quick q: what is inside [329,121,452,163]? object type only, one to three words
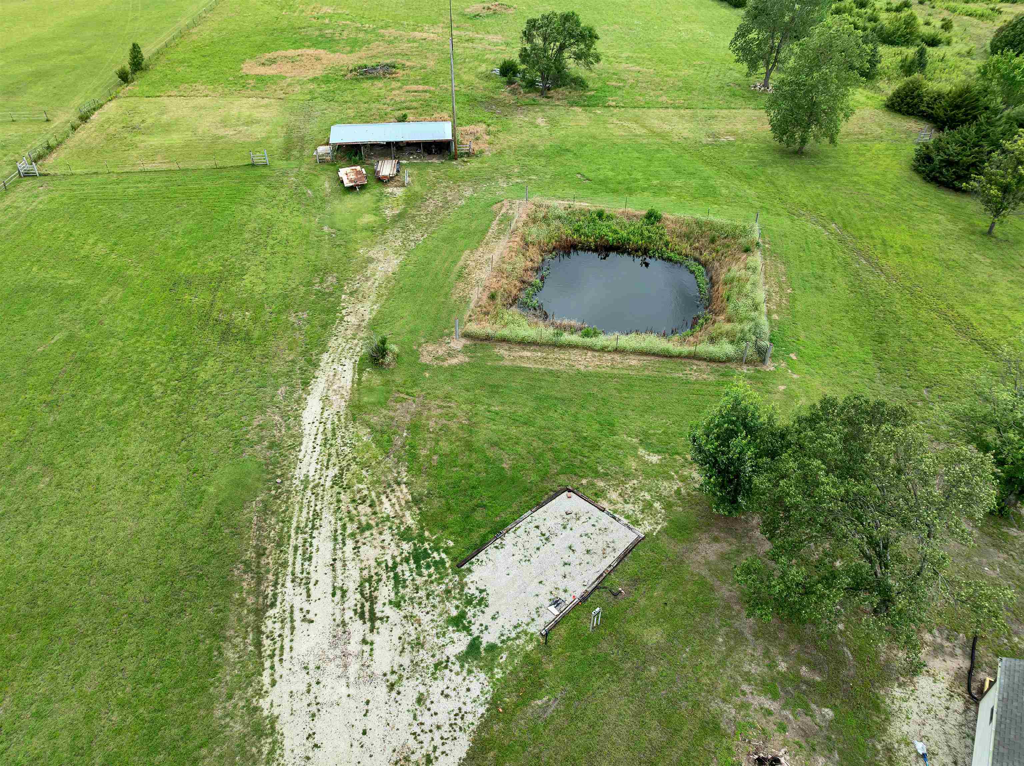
shed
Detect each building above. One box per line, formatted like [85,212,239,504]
[329,121,452,163]
[972,656,1024,766]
